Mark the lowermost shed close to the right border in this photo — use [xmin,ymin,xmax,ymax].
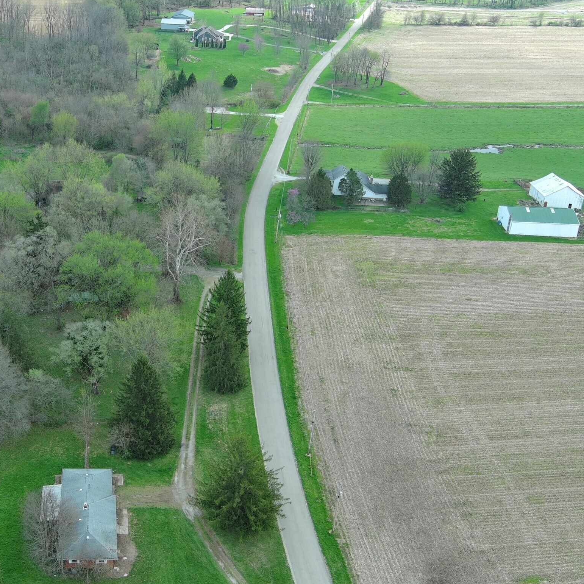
[498,206,582,237]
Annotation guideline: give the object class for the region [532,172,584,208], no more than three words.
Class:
barn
